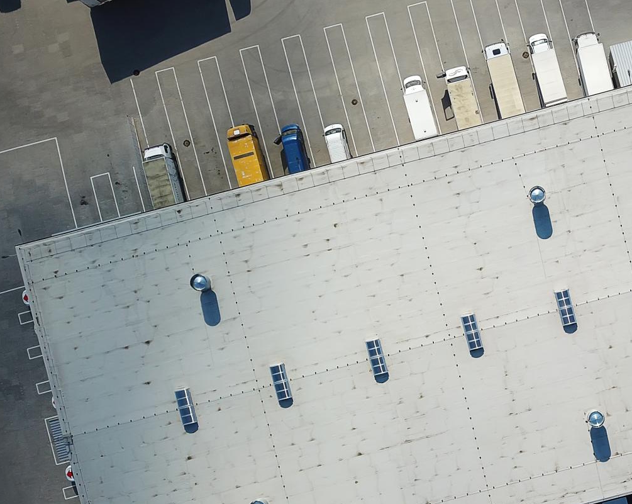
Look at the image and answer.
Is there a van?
Yes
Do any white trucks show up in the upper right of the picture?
Yes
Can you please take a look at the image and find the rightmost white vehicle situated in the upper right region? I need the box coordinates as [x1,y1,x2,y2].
[571,31,614,97]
